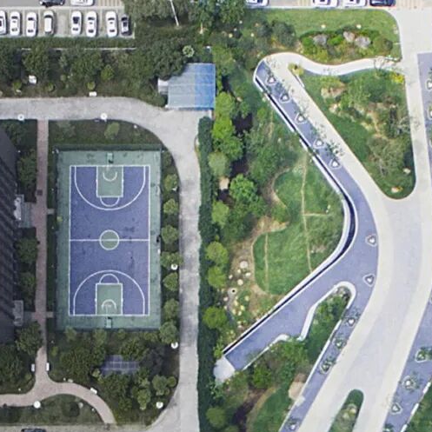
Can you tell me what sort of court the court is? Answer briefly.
basketball court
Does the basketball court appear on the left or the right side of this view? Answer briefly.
left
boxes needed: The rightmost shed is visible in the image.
[168,64,215,118]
